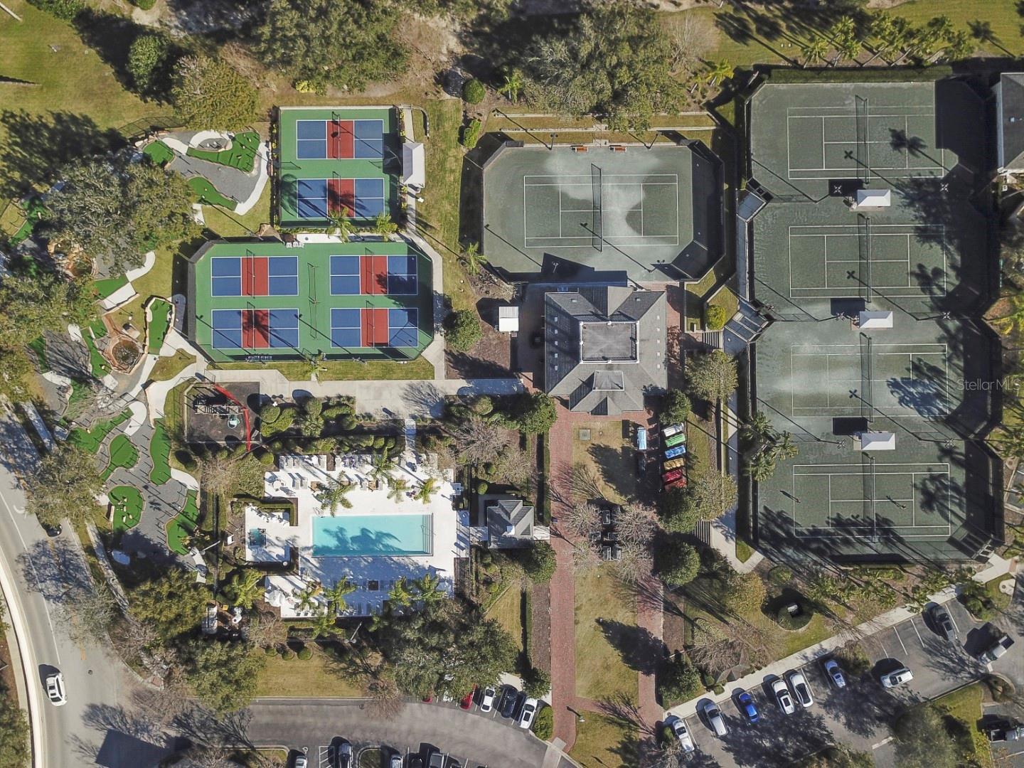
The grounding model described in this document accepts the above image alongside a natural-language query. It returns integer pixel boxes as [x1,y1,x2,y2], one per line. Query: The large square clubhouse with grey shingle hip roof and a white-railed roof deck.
[545,287,668,415]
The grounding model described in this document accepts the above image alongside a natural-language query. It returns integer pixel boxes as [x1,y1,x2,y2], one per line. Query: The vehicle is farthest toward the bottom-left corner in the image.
[47,671,68,704]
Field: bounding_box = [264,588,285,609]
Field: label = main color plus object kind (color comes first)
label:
white umbrella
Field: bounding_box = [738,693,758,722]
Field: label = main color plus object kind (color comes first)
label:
blue car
